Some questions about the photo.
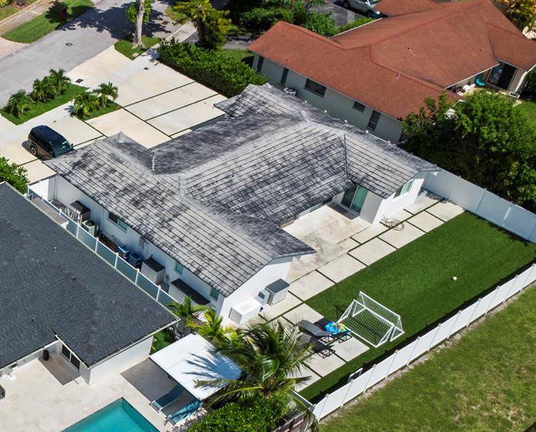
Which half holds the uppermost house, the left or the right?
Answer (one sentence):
The uppermost house appears in the right half of the scene.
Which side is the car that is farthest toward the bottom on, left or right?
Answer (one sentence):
The car that is farthest toward the bottom sits on the left side.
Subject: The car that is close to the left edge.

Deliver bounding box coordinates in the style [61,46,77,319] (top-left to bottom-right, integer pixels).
[27,122,80,161]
